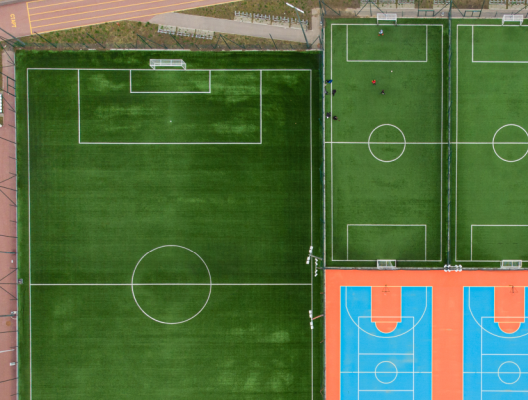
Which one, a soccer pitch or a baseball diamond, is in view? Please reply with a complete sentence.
Looking from above, you can make out a soccer pitch.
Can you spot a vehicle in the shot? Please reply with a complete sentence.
No, the scene contains no vehicle.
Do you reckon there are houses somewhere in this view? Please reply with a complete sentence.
No, the photo shows no house.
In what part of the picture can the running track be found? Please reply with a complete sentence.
The running track is in the top left part of the image.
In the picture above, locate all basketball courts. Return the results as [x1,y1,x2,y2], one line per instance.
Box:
[448,270,528,400]
[326,270,448,400]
